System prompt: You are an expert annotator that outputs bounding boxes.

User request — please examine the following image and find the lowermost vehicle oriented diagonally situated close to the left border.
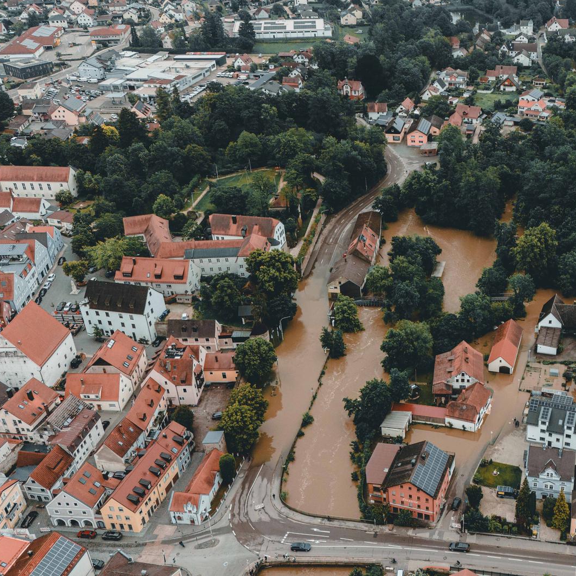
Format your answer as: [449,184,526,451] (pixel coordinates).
[19,510,40,527]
